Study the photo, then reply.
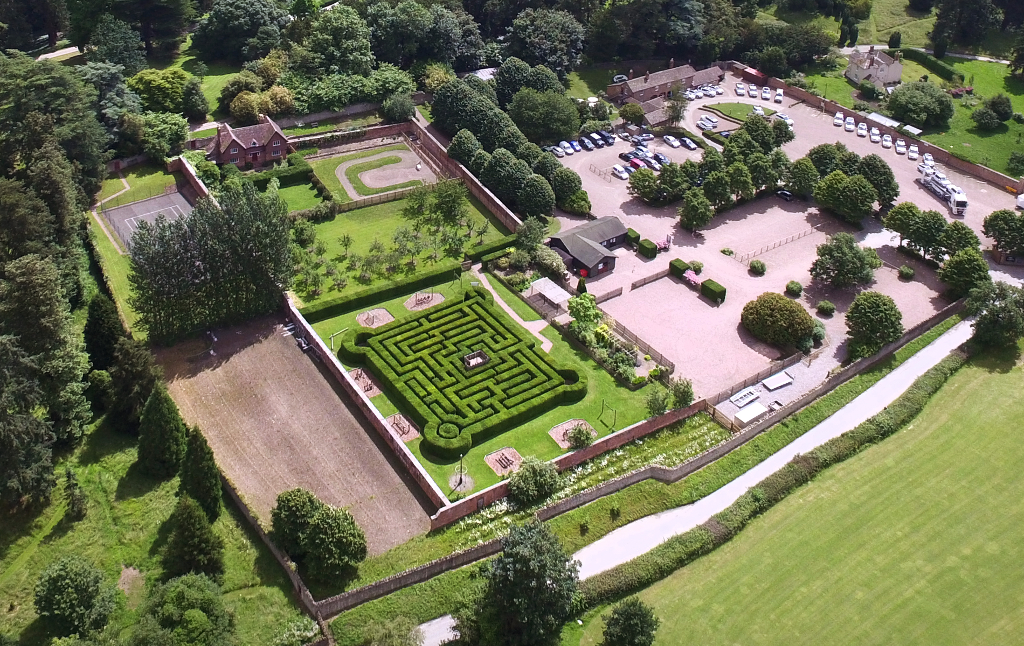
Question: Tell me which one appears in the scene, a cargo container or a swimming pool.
cargo container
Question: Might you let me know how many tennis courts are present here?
one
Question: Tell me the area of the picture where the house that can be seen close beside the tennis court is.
top left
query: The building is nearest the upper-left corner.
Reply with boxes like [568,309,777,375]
[200,112,290,166]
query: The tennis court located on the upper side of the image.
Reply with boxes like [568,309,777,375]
[100,191,203,257]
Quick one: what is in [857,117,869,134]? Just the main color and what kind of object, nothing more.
white vehicle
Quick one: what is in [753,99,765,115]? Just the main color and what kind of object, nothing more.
white vehicle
